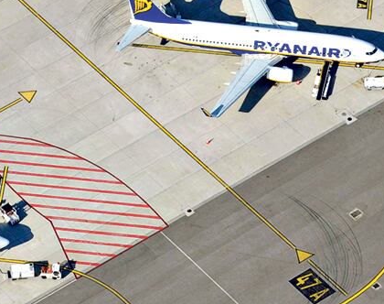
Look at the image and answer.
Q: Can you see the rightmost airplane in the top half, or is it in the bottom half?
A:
top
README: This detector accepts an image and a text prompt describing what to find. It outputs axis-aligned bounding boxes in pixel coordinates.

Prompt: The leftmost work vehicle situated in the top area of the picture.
[314,60,334,95]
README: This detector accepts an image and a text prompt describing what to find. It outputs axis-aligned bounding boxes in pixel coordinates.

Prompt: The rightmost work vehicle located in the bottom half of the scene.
[41,264,61,282]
